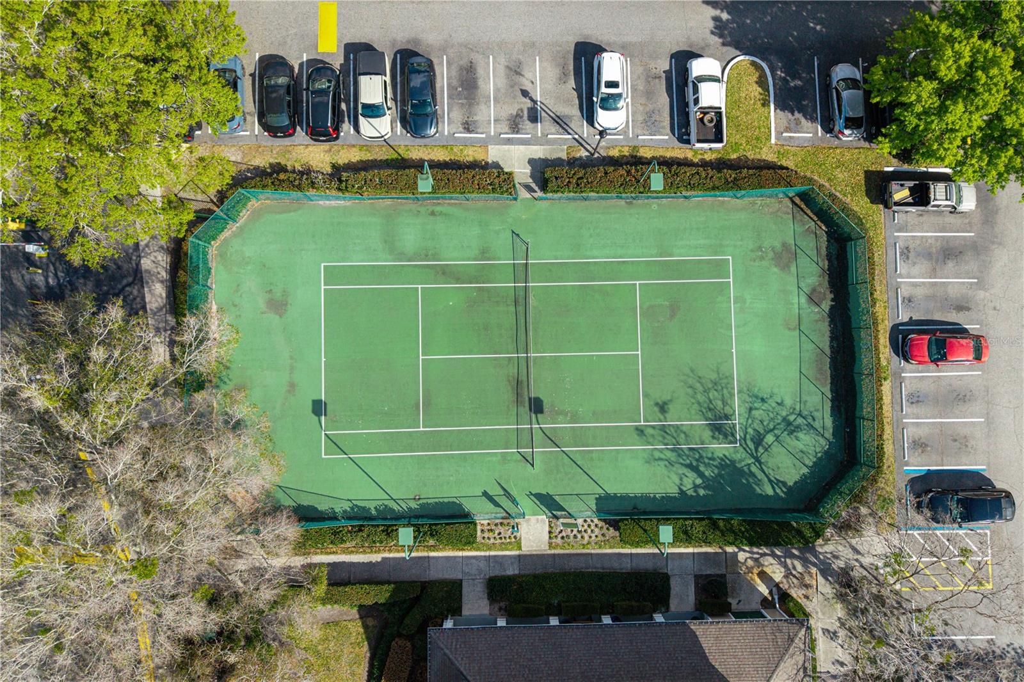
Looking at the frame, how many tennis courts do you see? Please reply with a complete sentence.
My tally gives 1 tennis court in this photo.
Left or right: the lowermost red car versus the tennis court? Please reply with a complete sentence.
The lowermost red car is to the right of the tennis court.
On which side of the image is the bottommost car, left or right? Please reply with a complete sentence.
It is on the right.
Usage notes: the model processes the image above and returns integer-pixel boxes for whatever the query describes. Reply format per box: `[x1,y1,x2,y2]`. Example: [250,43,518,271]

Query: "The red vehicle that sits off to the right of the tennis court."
[901,330,988,369]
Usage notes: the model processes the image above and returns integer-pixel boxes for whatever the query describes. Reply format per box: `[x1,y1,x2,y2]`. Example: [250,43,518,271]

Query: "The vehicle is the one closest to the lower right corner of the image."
[914,484,1007,528]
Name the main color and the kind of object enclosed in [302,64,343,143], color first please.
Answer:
black car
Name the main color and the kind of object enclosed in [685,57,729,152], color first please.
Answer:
white truck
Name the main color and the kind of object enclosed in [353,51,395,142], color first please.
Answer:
white truck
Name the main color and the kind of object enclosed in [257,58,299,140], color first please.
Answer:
black car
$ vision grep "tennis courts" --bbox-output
[215,198,842,516]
